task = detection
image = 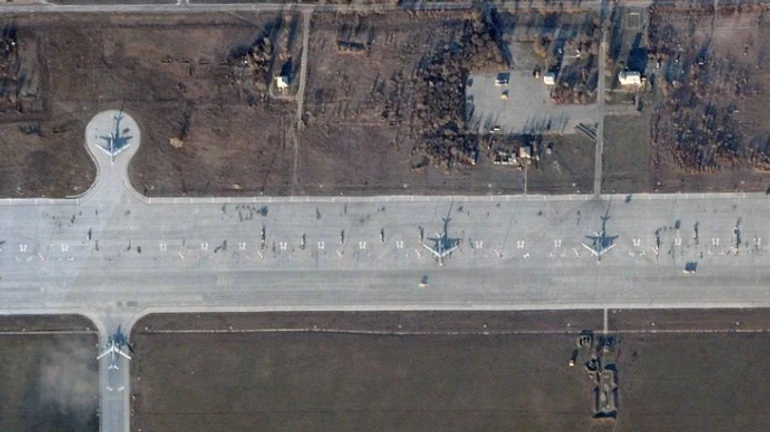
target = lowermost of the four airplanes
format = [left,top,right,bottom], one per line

[95,340,130,372]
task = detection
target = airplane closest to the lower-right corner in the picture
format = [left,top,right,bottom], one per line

[581,230,616,264]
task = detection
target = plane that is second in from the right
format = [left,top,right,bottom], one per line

[422,233,457,266]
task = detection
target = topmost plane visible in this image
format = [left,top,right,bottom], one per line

[95,134,129,165]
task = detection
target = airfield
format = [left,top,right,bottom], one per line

[0,109,770,432]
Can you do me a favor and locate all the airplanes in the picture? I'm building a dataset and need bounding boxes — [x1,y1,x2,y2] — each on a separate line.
[95,340,130,372]
[422,233,457,266]
[581,230,616,264]
[95,134,129,165]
